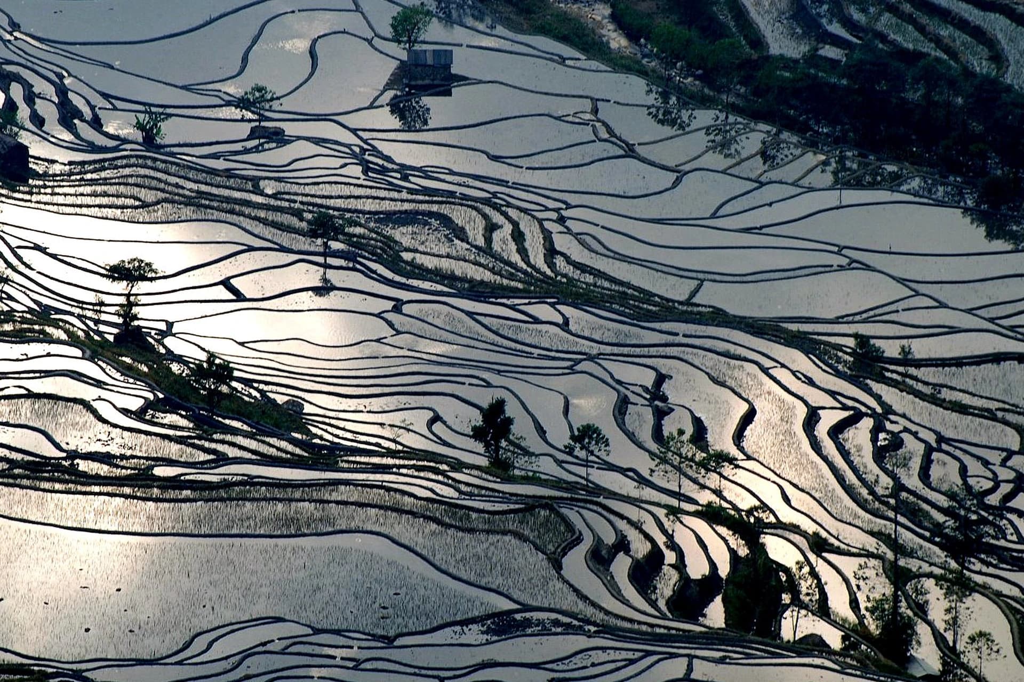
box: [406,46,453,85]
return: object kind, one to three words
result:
shed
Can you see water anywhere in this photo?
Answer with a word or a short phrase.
Yes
